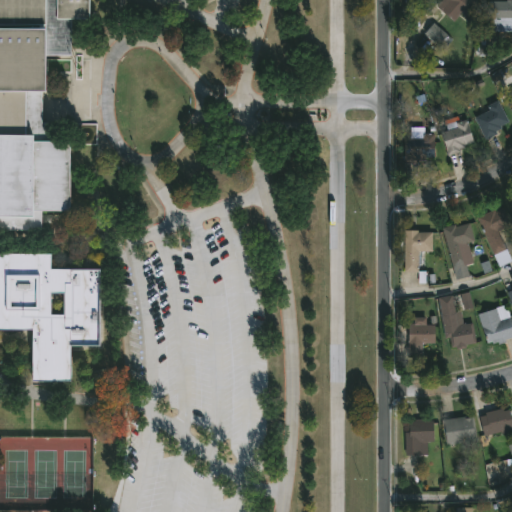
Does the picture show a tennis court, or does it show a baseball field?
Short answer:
tennis court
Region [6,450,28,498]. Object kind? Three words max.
tennis court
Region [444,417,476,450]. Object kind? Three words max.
house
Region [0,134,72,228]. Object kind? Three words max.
building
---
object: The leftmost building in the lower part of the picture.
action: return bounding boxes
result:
[0,253,100,380]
